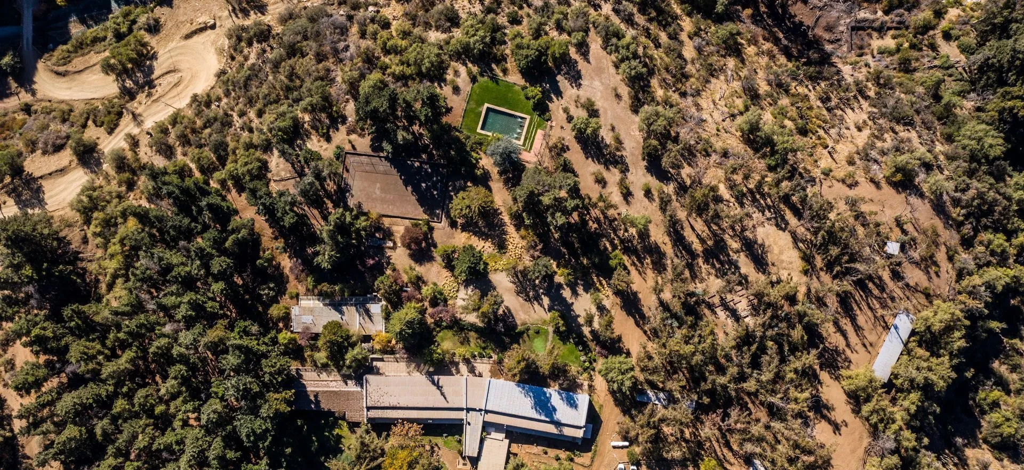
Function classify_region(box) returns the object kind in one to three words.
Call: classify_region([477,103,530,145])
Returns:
swimming pool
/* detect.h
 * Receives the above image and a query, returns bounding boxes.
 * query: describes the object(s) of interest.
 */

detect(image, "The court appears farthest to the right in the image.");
[344,154,446,221]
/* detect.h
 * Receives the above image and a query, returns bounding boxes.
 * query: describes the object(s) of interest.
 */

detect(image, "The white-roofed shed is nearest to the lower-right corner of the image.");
[867,312,914,382]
